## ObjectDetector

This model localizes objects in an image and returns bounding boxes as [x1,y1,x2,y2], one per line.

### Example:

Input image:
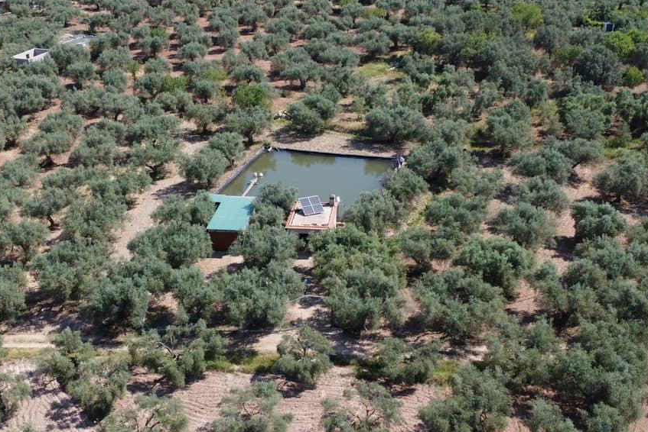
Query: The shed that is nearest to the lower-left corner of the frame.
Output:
[206,195,256,251]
